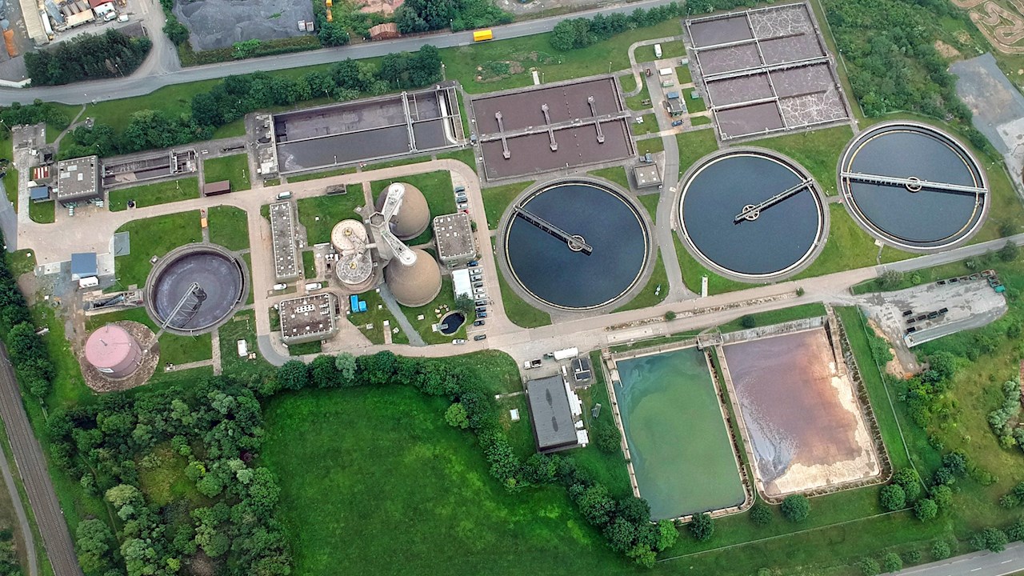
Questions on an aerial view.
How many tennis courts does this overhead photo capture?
0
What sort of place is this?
industrial area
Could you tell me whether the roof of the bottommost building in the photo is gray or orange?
gray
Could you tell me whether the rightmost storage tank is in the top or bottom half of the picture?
top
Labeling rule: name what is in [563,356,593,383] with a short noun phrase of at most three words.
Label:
shed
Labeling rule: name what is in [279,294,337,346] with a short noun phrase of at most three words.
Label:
building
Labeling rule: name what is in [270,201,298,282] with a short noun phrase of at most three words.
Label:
building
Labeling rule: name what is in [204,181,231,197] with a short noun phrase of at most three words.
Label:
shed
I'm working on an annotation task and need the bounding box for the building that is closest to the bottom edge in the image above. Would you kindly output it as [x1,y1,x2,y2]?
[524,374,580,456]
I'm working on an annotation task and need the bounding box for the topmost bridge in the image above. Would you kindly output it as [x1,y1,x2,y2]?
[400,89,425,156]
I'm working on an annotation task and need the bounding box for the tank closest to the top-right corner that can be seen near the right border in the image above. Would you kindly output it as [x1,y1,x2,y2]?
[833,118,993,256]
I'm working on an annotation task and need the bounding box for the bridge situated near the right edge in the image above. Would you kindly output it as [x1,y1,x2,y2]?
[839,170,990,195]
